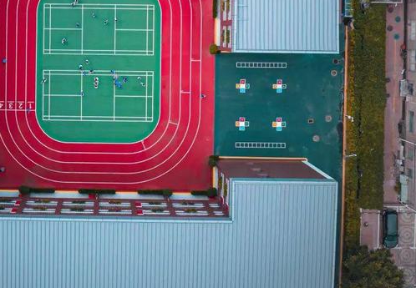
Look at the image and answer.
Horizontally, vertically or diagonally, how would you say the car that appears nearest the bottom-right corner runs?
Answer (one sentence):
The car that appears nearest the bottom-right corner has been laid out vertically relative to the frame.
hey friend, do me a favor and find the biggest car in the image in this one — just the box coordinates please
[383,209,403,250]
